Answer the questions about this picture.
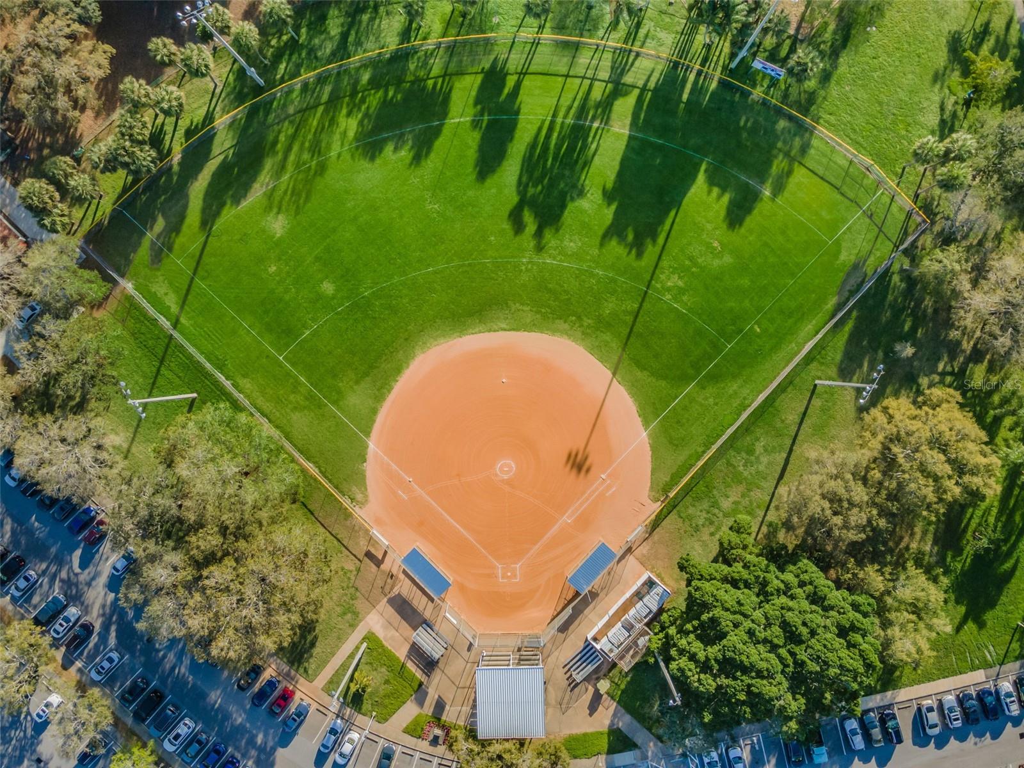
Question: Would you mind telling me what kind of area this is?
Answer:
sports ground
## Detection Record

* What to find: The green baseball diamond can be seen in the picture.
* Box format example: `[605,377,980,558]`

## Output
[93,40,919,634]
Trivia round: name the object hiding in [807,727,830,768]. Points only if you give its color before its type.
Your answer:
blue truck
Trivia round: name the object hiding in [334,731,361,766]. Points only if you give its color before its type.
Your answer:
white car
